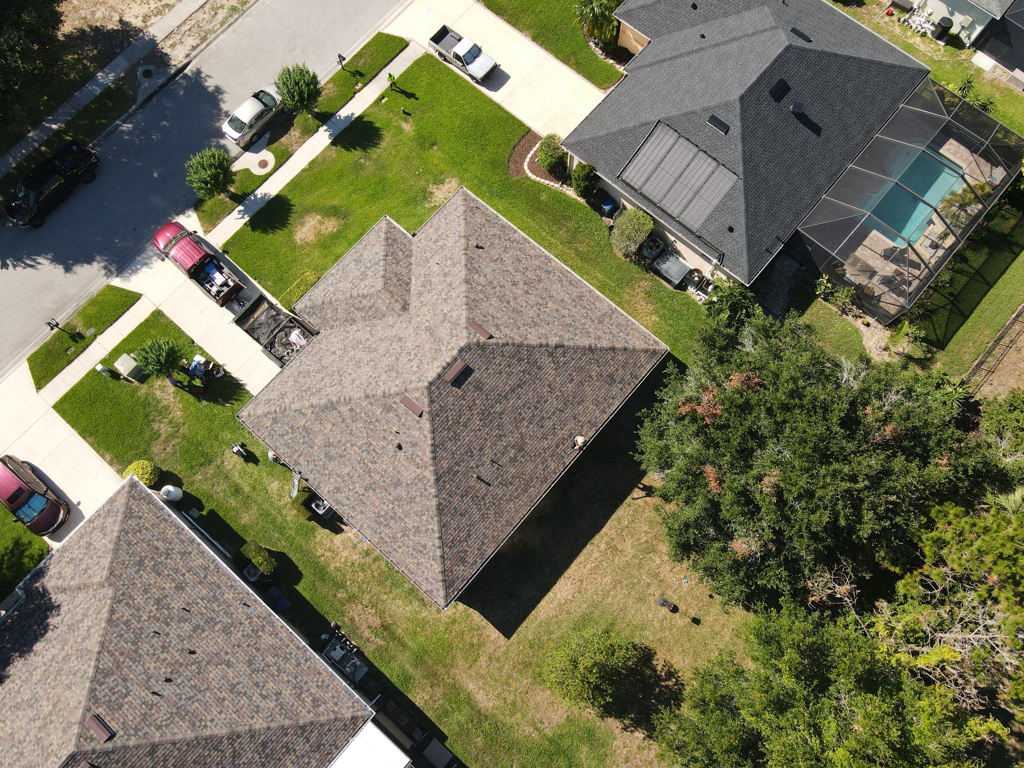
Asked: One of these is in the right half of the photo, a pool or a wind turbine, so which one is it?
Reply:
pool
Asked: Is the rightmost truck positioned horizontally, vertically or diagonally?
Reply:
diagonally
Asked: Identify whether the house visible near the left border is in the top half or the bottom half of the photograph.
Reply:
bottom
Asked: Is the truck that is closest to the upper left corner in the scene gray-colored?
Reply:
No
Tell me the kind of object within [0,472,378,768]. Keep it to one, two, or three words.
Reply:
house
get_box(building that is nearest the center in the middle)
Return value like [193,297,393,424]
[234,185,670,611]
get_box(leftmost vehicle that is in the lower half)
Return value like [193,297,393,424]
[0,452,74,537]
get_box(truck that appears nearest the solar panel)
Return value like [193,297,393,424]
[429,24,499,85]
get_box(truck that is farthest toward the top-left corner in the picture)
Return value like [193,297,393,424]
[4,139,103,235]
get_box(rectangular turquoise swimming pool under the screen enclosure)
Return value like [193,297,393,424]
[851,144,968,250]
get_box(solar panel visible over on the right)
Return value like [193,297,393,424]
[614,112,745,274]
